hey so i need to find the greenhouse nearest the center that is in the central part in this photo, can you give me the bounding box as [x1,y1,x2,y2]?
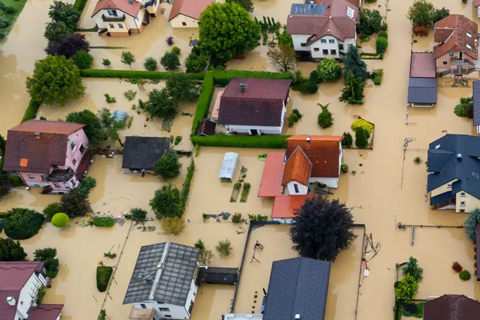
[219,147,238,181]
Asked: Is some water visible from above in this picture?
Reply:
Yes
